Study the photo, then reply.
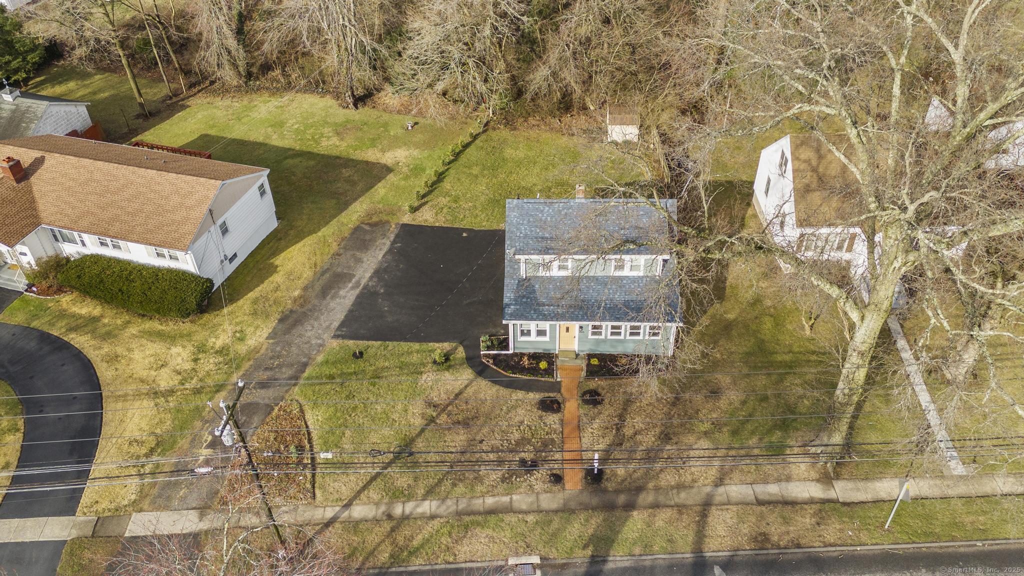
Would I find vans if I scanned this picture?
No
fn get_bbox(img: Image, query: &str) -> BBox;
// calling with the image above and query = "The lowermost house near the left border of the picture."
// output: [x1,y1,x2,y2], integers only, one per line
[0,133,277,300]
